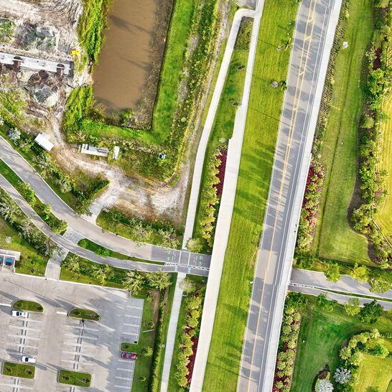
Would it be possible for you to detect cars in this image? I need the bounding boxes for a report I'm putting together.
[122,351,137,359]
[22,355,37,363]
[13,310,28,317]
